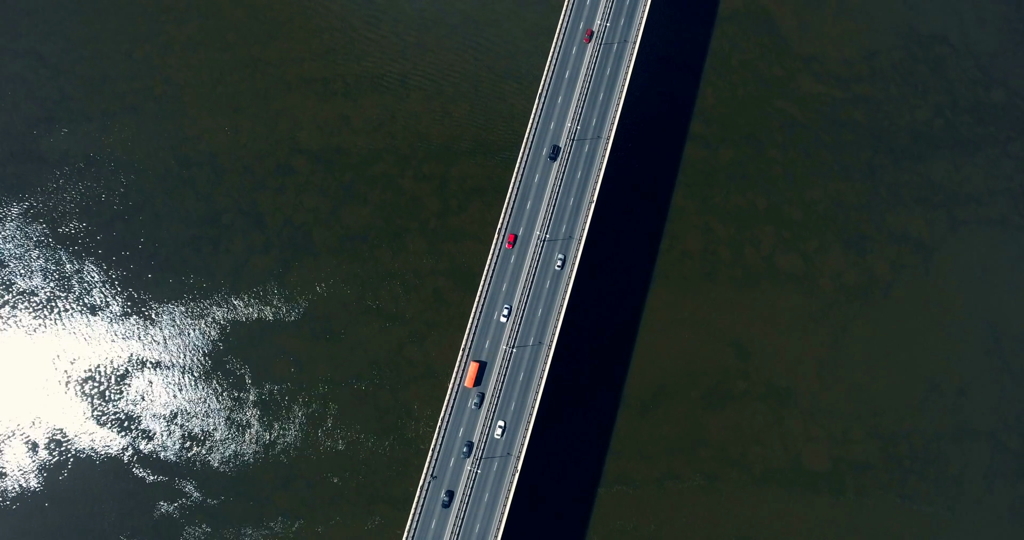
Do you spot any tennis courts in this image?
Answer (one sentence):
No, no tennis court is visible in the scene.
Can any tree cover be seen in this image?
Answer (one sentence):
No, there is no tree cover in the image.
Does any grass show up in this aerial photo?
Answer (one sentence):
No, there is no grass in the image.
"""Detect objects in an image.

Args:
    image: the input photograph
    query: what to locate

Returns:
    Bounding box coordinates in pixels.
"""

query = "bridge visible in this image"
[403,0,651,540]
